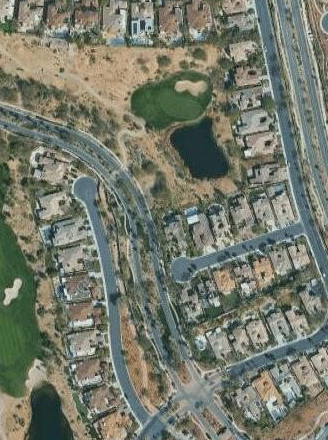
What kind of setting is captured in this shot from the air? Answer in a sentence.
This looks like a residential area.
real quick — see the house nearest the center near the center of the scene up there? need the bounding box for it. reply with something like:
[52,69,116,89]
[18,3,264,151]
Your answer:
[163,220,189,254]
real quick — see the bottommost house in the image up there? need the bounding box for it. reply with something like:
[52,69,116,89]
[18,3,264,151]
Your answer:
[98,411,135,440]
